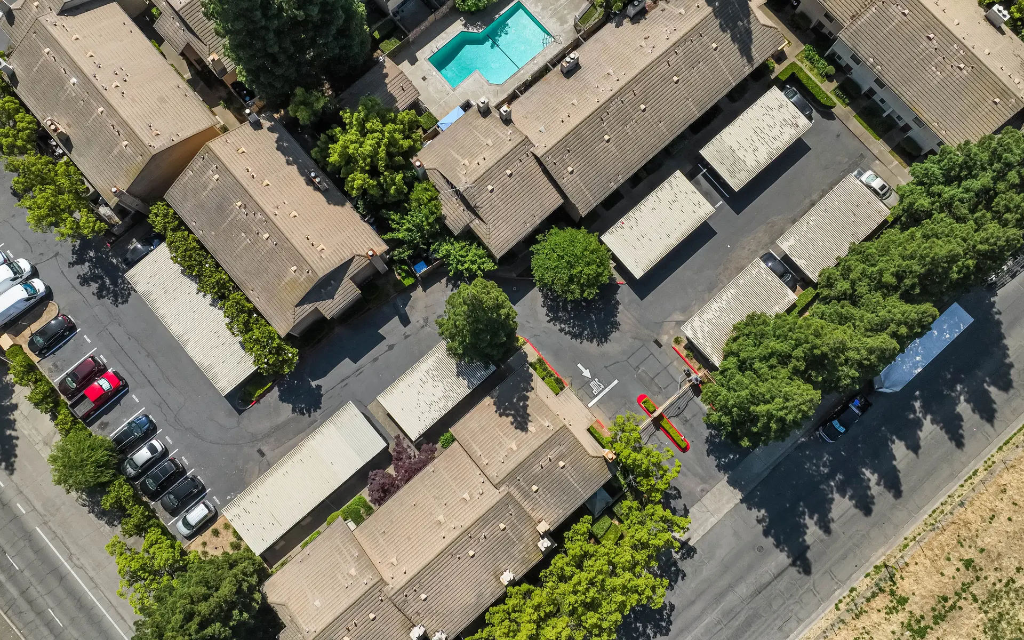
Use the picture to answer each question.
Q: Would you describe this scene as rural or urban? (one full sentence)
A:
From above, the setting appears urban.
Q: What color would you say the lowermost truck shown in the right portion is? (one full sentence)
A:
In this view, the lowermost truck shown in the right portion is black.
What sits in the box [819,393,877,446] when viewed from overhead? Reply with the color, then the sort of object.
black truck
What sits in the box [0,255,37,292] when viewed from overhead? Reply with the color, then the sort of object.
white van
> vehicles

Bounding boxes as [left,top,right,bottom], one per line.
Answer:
[819,393,877,446]
[156,472,208,519]
[24,312,75,357]
[759,249,804,296]
[121,230,168,270]
[767,82,813,120]
[107,414,157,464]
[855,166,903,215]
[0,255,37,292]
[175,496,219,535]
[117,435,170,483]
[136,455,188,502]
[55,354,107,401]
[64,374,126,425]
[0,273,53,330]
